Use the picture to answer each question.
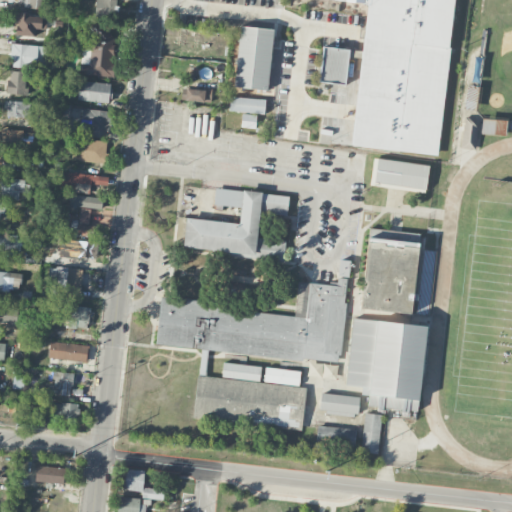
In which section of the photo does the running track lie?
right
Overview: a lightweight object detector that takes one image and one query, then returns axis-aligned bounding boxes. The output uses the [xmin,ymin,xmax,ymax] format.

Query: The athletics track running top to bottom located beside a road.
[426,138,512,477]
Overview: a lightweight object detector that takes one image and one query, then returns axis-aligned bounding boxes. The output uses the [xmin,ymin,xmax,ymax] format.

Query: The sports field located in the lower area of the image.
[453,200,512,418]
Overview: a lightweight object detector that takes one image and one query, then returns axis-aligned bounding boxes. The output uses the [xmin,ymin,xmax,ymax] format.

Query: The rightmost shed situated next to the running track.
[483,119,509,136]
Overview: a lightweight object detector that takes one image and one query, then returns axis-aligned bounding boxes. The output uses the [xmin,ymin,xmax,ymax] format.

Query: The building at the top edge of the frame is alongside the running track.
[352,0,457,156]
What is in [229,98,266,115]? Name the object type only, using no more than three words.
shed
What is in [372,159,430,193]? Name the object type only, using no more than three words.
building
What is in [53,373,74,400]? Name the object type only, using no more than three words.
house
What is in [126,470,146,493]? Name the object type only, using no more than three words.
house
